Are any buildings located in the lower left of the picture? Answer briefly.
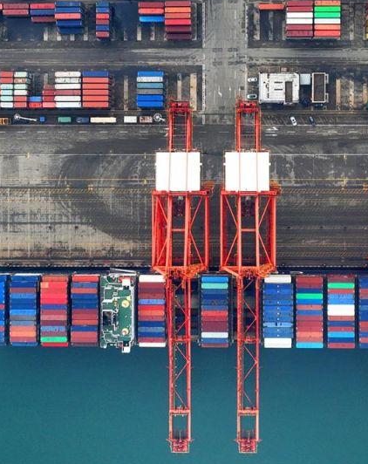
No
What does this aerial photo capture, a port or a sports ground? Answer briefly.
port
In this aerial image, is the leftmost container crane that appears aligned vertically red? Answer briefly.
Yes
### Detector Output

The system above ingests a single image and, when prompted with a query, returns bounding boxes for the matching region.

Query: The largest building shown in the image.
[259,74,298,105]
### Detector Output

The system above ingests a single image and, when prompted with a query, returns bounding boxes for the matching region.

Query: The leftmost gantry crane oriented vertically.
[149,101,217,453]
